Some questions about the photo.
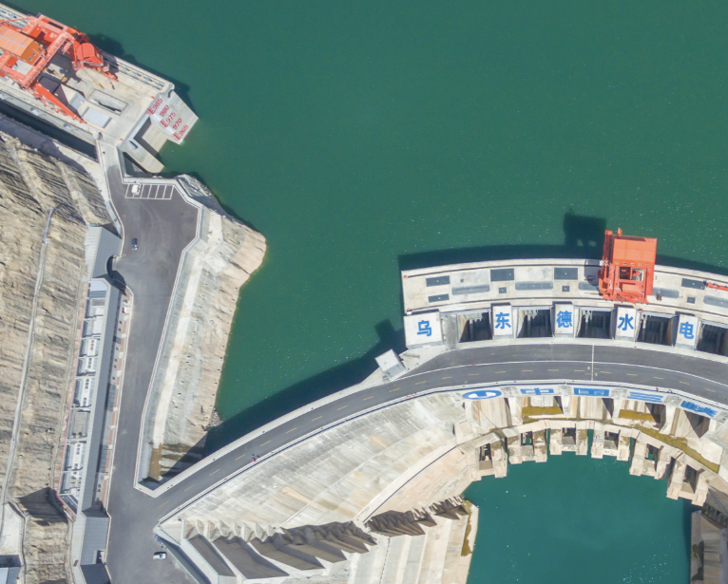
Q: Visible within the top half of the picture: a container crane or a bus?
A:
container crane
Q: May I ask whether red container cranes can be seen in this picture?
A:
Yes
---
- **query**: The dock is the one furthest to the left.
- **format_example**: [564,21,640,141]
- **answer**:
[122,140,160,178]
